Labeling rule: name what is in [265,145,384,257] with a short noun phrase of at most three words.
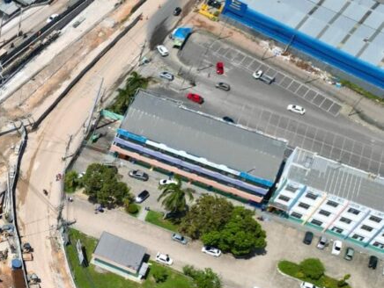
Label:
building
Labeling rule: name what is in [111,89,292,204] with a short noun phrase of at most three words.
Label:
building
